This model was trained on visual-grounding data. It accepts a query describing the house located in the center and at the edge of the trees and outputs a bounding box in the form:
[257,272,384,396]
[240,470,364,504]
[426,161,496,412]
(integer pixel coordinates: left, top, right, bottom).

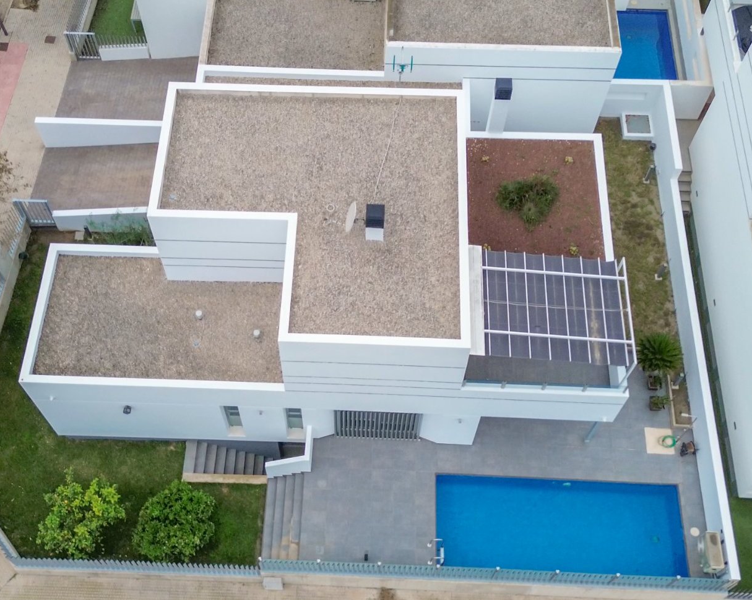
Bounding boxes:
[19,66,639,460]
